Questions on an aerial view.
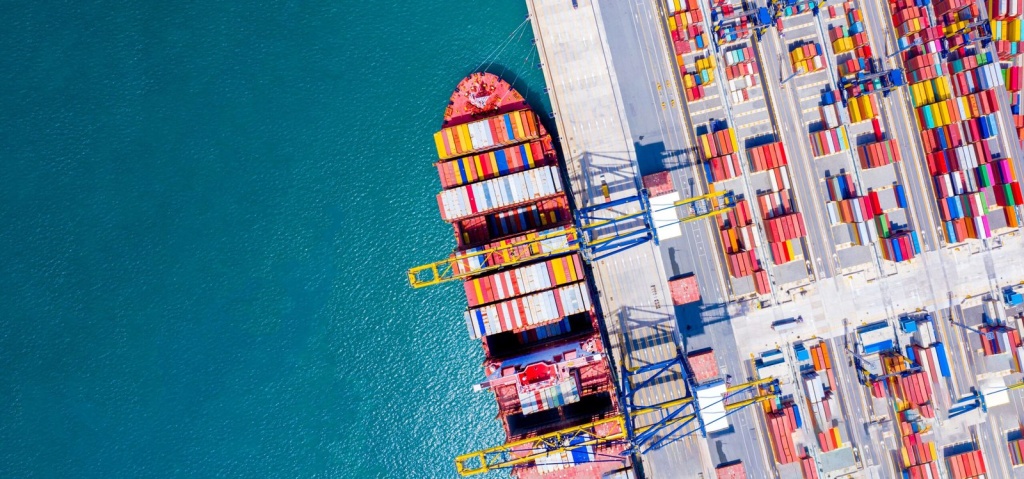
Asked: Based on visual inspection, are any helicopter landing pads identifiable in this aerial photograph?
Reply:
No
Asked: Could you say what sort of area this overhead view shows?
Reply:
port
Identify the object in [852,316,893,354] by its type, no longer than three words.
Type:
building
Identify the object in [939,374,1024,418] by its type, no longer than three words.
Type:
container crane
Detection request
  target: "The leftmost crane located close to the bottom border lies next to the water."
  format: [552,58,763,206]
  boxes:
[451,340,786,479]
